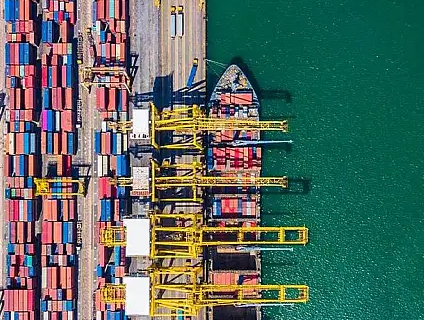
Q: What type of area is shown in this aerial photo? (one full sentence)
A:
It's a port.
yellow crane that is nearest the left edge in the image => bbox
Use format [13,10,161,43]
[33,178,86,199]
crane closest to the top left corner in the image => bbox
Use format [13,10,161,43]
[84,68,131,95]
